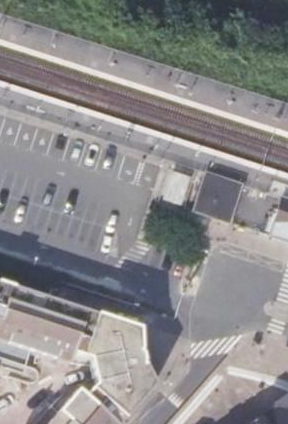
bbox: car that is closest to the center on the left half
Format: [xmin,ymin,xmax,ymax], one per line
[105,212,119,234]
